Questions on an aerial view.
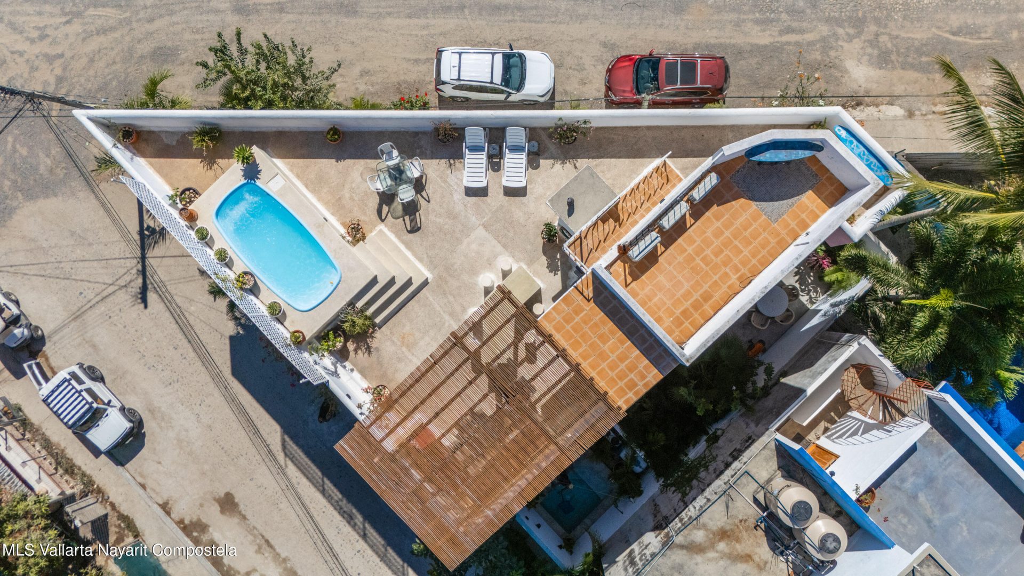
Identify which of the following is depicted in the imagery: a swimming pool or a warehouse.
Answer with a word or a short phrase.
swimming pool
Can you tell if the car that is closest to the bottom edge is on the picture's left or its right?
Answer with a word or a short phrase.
left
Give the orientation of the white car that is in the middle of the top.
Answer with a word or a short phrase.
from side to side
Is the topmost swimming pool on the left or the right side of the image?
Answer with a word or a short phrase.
left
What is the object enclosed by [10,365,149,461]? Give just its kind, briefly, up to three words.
car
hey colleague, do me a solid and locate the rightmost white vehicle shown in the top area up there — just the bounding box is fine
[440,43,557,104]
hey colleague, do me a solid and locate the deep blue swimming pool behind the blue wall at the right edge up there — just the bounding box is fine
[936,326,1024,455]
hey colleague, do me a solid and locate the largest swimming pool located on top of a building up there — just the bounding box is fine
[191,146,429,339]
